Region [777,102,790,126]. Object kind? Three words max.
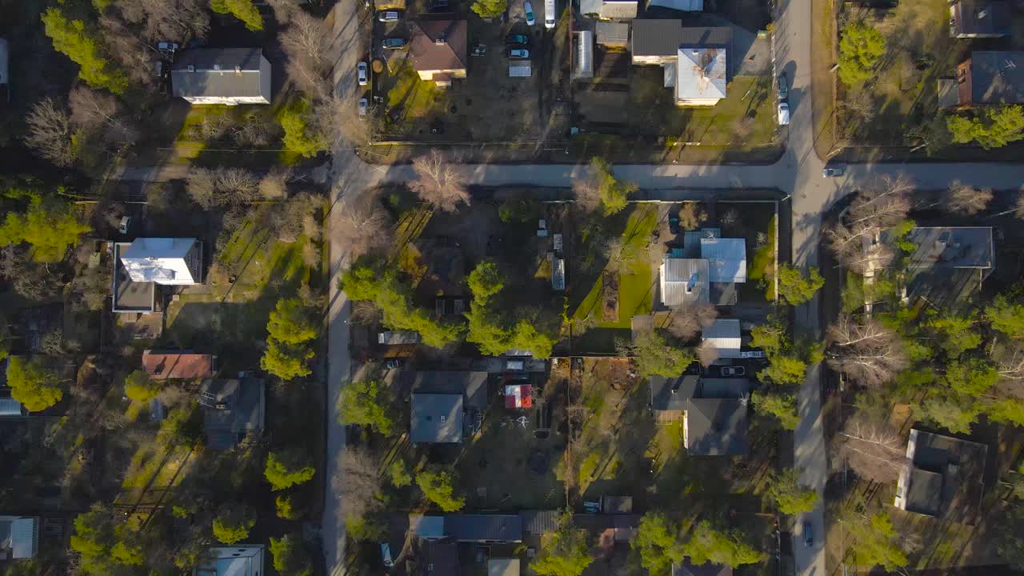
vehicle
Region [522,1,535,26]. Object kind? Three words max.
vehicle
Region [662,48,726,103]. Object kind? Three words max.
house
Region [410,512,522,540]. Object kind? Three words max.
shed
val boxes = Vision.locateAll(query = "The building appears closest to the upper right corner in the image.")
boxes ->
[951,0,1011,40]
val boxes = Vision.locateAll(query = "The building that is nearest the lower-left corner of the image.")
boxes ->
[0,513,44,558]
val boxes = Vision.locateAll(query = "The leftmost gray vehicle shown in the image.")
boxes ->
[117,210,133,235]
